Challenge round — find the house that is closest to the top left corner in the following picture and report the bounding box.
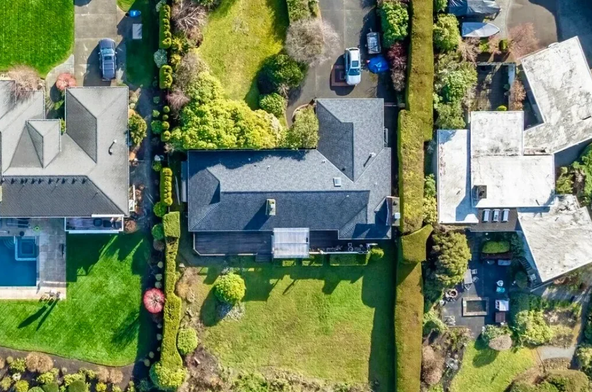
[0,79,130,235]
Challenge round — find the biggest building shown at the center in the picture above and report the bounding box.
[179,97,399,267]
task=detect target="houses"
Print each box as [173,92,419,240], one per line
[179,97,399,267]
[432,36,592,282]
[0,79,130,235]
